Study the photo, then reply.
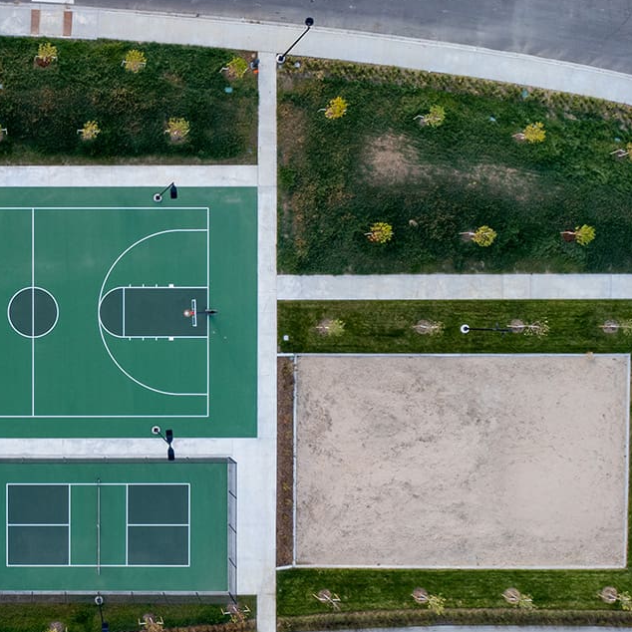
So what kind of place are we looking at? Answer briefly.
sports ground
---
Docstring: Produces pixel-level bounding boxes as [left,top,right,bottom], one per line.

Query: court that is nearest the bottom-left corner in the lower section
[0,458,228,591]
